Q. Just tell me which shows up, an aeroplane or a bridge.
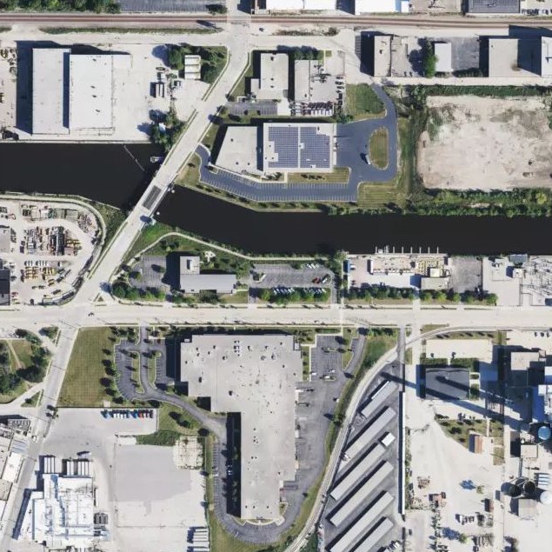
bridge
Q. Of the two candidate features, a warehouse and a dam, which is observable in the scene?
warehouse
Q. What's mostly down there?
paved ground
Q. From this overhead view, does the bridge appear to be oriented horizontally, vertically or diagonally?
diagonally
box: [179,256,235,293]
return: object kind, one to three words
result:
building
